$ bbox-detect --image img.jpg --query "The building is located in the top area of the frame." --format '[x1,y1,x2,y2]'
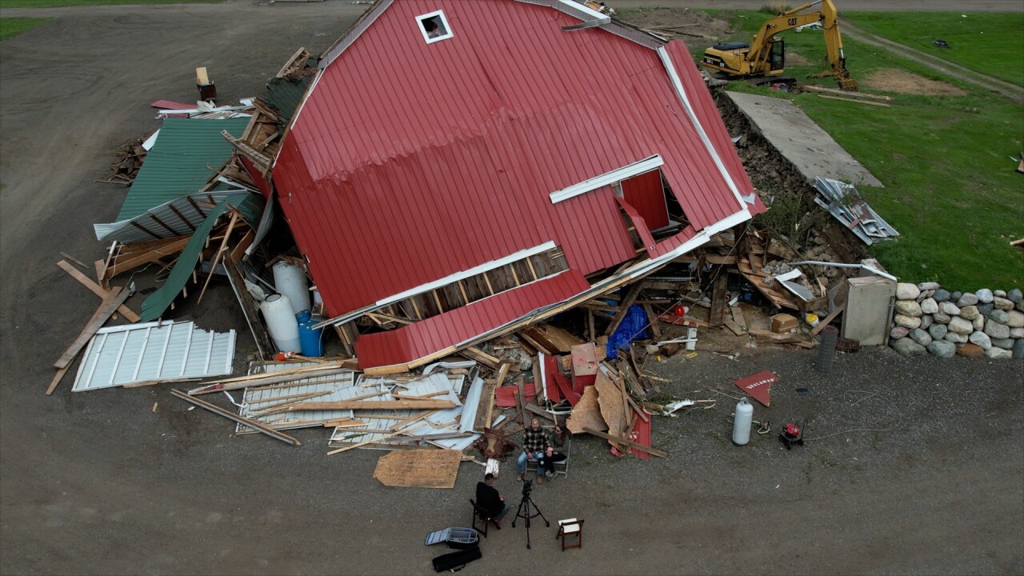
[269,0,767,377]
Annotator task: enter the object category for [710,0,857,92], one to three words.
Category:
work vehicle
